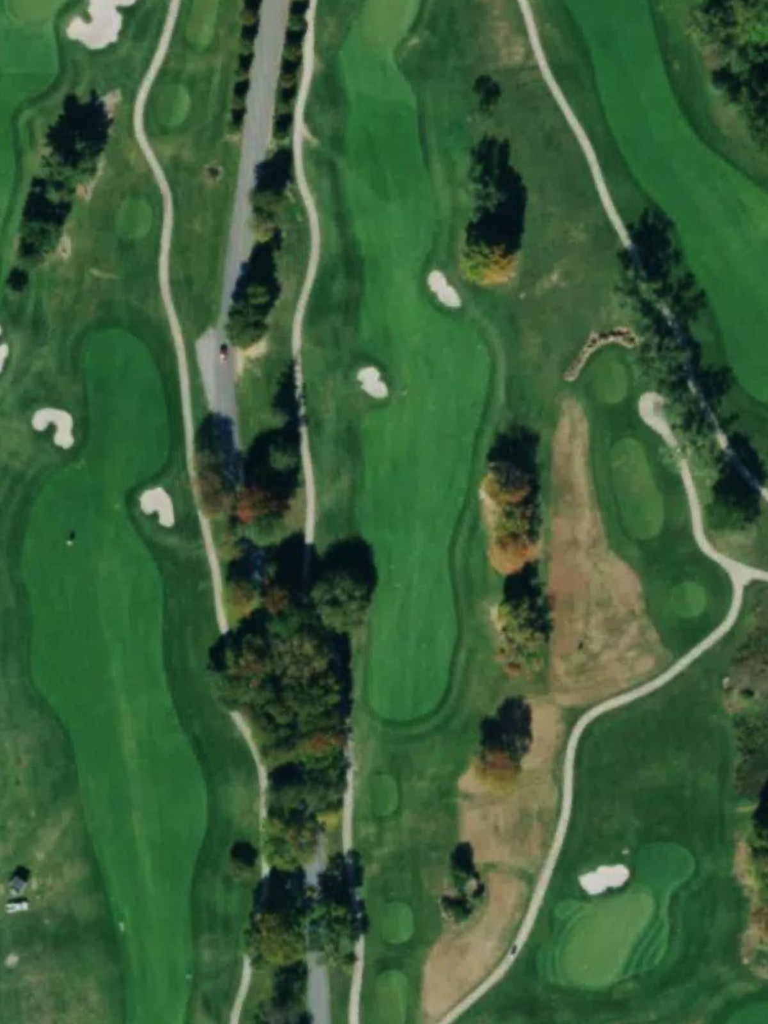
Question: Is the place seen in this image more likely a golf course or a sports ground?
golf course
